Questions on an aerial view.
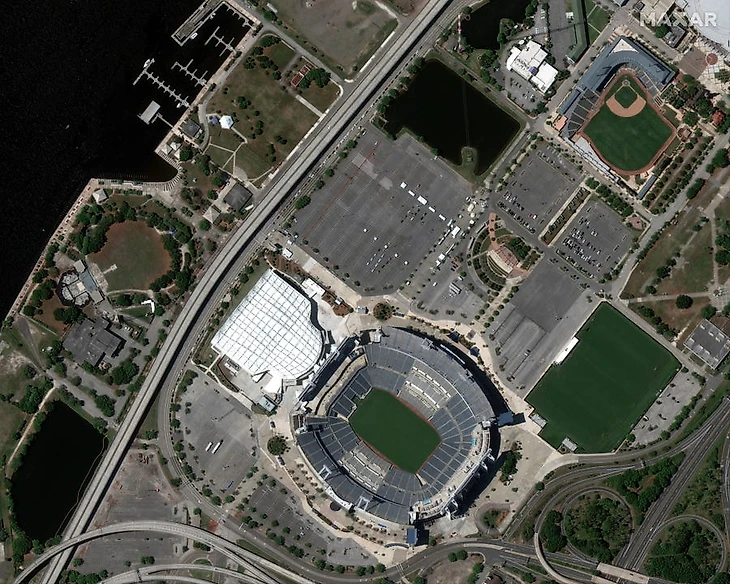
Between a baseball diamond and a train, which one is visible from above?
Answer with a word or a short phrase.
baseball diamond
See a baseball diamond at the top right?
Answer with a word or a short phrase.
Yes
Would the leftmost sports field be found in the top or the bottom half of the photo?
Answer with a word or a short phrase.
bottom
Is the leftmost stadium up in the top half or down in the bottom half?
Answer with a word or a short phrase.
bottom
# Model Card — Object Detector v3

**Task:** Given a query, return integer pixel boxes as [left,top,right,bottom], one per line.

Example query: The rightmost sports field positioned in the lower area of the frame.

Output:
[525,300,682,455]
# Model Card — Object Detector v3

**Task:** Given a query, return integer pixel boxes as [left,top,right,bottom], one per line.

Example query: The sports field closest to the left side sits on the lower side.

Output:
[349,387,441,474]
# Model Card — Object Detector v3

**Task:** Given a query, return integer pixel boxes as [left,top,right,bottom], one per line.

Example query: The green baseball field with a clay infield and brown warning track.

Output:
[579,71,677,174]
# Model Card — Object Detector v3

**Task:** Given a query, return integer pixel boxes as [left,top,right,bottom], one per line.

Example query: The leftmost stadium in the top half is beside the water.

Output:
[552,36,678,195]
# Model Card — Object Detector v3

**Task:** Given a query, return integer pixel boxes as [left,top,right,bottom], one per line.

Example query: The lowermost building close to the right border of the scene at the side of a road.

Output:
[684,319,730,370]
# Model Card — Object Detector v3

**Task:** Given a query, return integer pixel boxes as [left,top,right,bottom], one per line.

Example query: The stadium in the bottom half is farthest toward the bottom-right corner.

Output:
[295,326,496,528]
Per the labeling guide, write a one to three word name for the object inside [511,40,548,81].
building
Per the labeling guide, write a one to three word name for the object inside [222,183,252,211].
building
